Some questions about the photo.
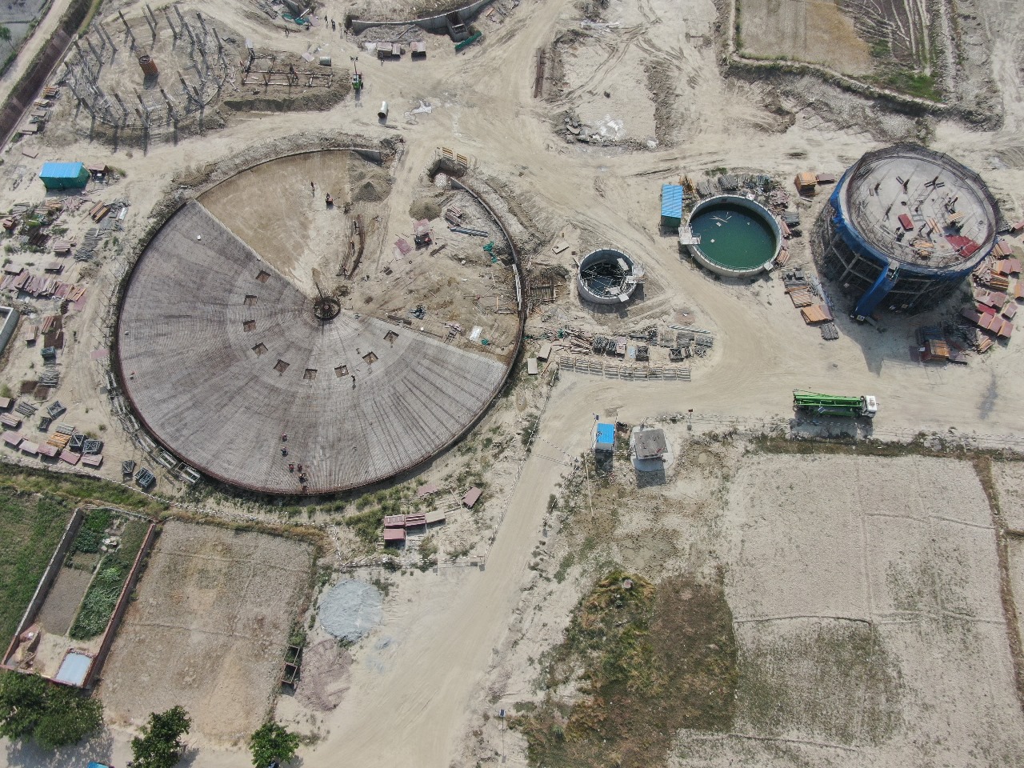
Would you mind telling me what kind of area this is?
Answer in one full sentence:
It's an industrial area.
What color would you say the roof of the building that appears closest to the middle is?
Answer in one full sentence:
The roof of the building that appears closest to the middle is blue.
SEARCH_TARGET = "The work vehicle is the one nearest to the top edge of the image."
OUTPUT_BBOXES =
[351,69,363,91]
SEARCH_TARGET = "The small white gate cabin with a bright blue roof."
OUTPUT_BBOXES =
[594,423,615,450]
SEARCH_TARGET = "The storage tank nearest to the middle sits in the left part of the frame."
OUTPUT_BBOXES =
[118,148,523,495]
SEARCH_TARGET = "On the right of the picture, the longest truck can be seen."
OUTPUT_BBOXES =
[791,391,885,422]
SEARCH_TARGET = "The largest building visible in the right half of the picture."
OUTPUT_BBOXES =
[631,425,673,470]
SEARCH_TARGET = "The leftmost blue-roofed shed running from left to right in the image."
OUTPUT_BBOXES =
[33,161,96,190]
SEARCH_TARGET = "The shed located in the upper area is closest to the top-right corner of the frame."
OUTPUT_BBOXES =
[659,183,683,229]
